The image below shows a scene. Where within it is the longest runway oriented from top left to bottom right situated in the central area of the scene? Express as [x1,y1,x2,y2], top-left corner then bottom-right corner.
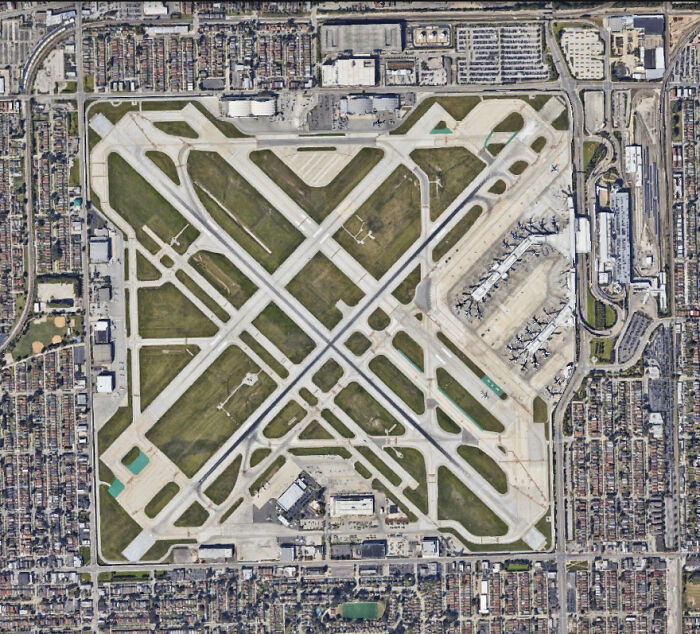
[123,141,532,542]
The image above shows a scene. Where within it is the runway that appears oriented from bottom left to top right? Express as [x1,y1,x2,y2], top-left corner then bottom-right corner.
[126,153,396,440]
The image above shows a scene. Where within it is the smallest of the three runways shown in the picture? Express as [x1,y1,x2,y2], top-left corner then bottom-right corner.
[228,146,405,321]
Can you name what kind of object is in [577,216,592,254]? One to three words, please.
building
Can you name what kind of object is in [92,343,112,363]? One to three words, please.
hangar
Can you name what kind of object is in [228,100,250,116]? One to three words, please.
hangar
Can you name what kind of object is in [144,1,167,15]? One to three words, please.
building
